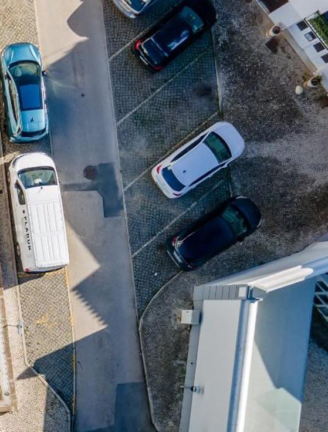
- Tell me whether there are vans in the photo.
Yes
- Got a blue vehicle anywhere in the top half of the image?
Yes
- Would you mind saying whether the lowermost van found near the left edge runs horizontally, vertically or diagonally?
vertically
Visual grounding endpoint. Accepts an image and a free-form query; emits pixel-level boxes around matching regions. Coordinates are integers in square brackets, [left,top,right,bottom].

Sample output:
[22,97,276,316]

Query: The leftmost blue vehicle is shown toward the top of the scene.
[0,45,50,146]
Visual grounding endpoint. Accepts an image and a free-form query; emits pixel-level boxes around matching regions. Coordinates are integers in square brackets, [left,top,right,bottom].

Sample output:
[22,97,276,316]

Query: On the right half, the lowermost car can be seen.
[157,194,261,277]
